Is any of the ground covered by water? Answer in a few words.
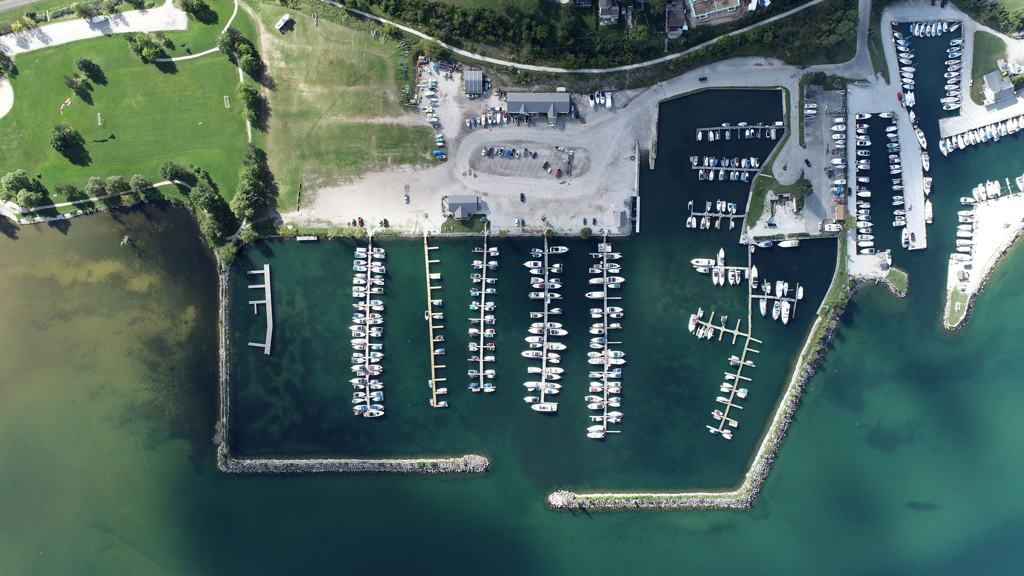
Yes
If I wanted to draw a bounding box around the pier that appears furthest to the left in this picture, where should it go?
[246,265,273,354]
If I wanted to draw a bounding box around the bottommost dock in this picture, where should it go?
[706,337,763,436]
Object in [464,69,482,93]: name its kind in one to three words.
shed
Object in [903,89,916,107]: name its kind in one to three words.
boat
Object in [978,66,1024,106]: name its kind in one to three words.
house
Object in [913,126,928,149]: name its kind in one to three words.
boat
